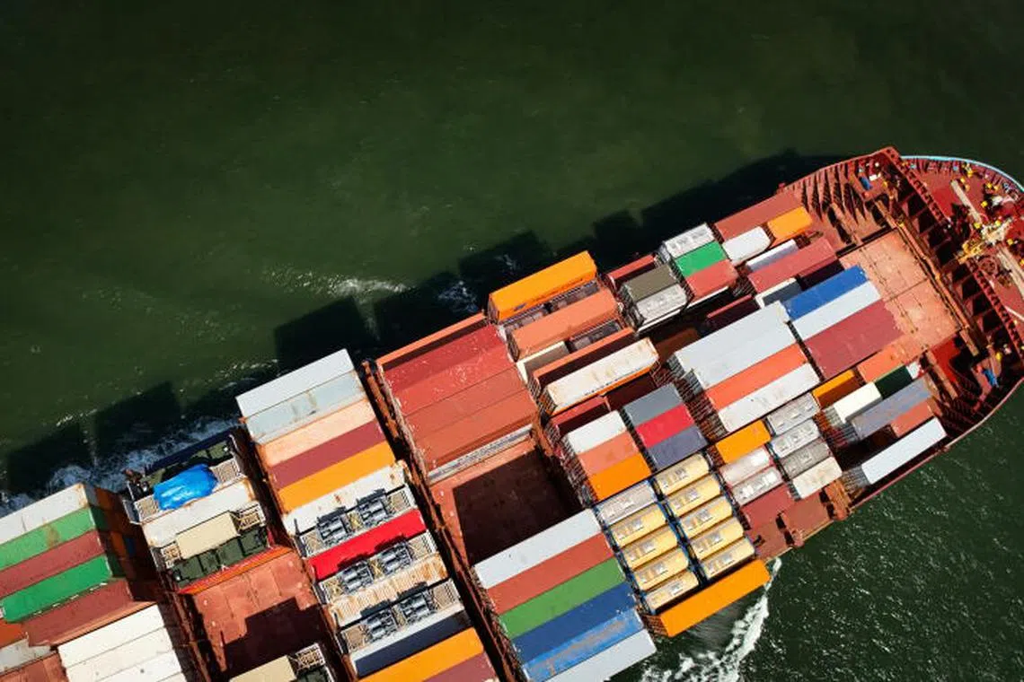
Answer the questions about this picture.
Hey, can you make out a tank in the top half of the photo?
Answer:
No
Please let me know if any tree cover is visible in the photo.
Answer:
No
